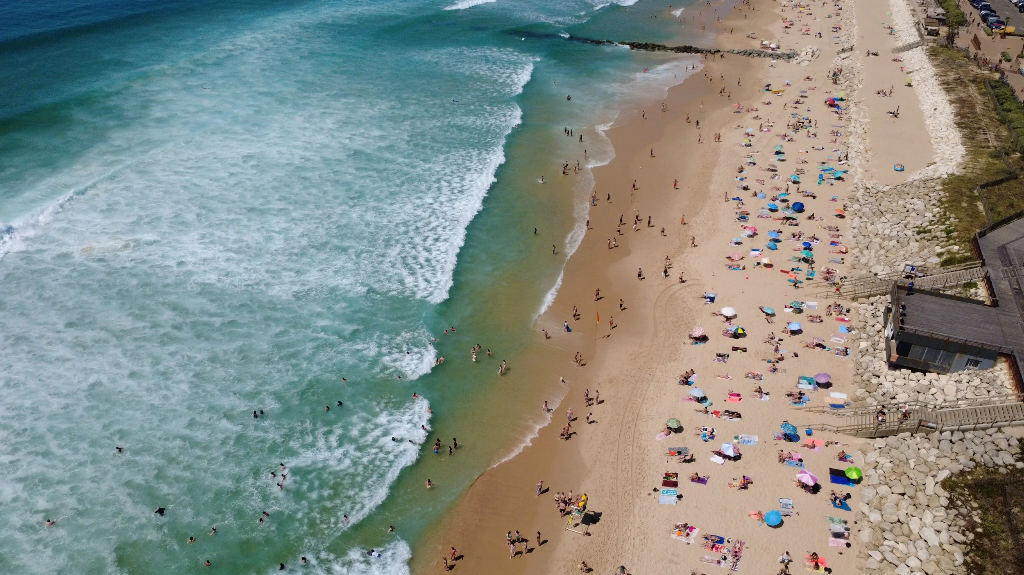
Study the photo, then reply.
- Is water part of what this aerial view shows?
Yes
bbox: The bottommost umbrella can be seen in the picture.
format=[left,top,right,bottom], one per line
[763,513,783,533]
